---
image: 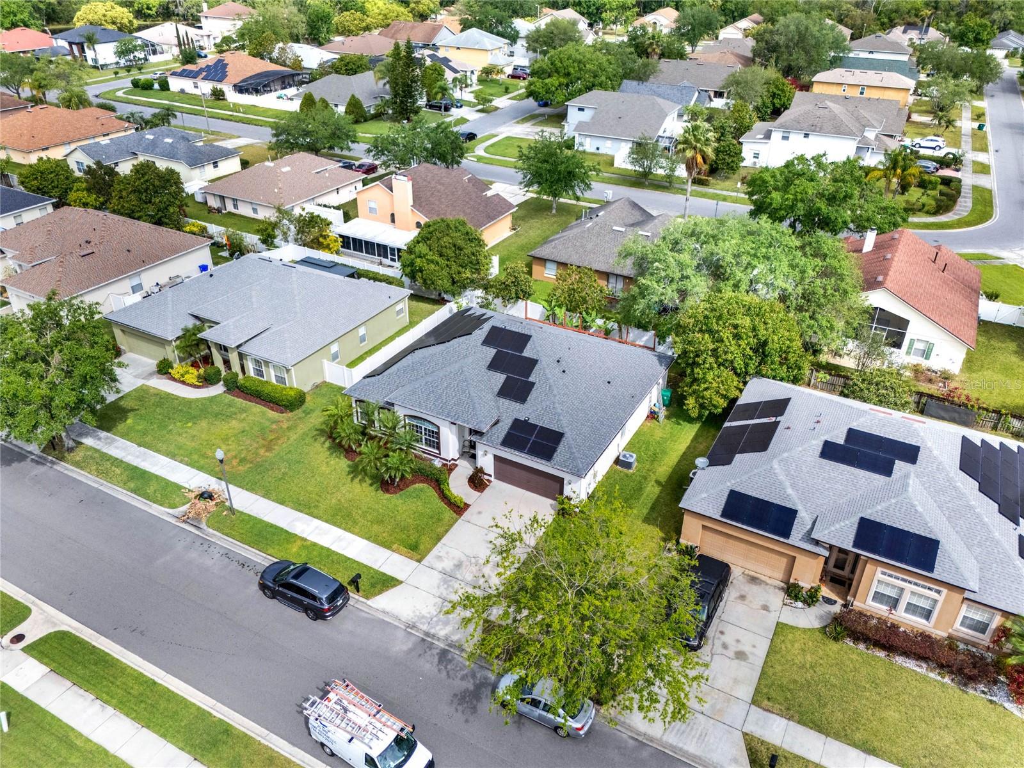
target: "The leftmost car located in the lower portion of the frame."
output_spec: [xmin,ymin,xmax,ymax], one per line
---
[257,558,354,622]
